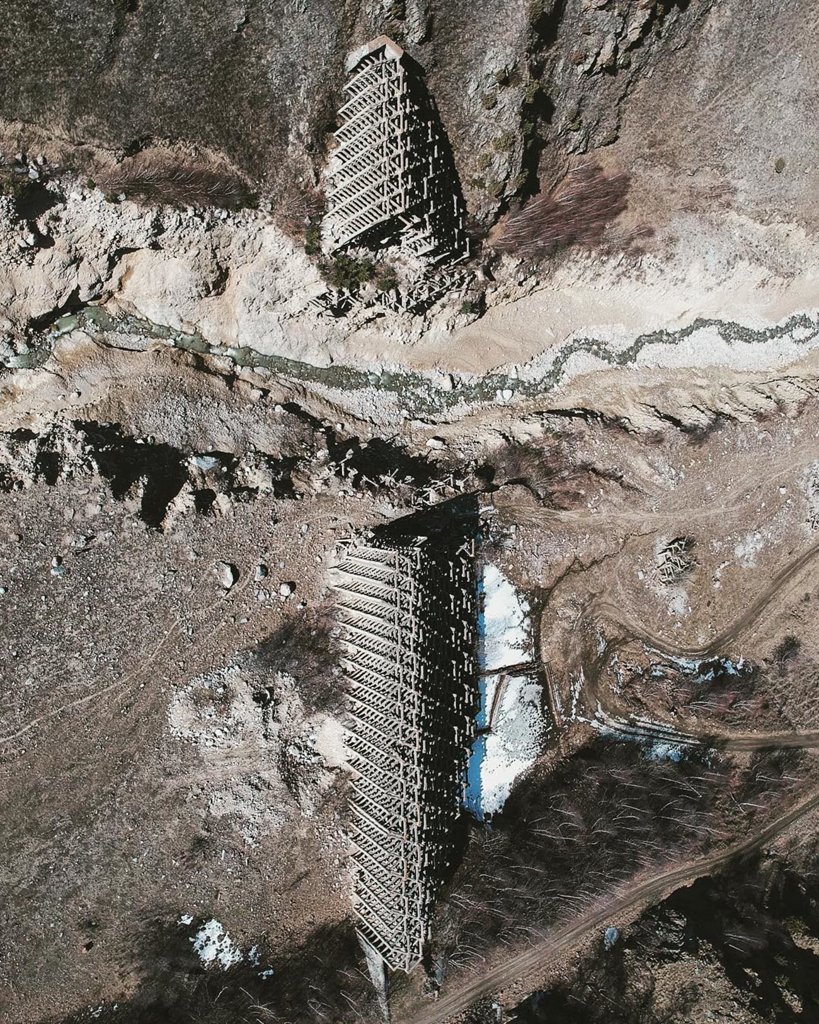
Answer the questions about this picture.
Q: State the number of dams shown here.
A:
2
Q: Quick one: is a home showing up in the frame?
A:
No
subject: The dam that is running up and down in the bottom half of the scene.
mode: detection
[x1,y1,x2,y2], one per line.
[331,540,479,975]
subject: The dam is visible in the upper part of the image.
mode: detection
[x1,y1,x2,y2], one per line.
[321,58,463,253]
